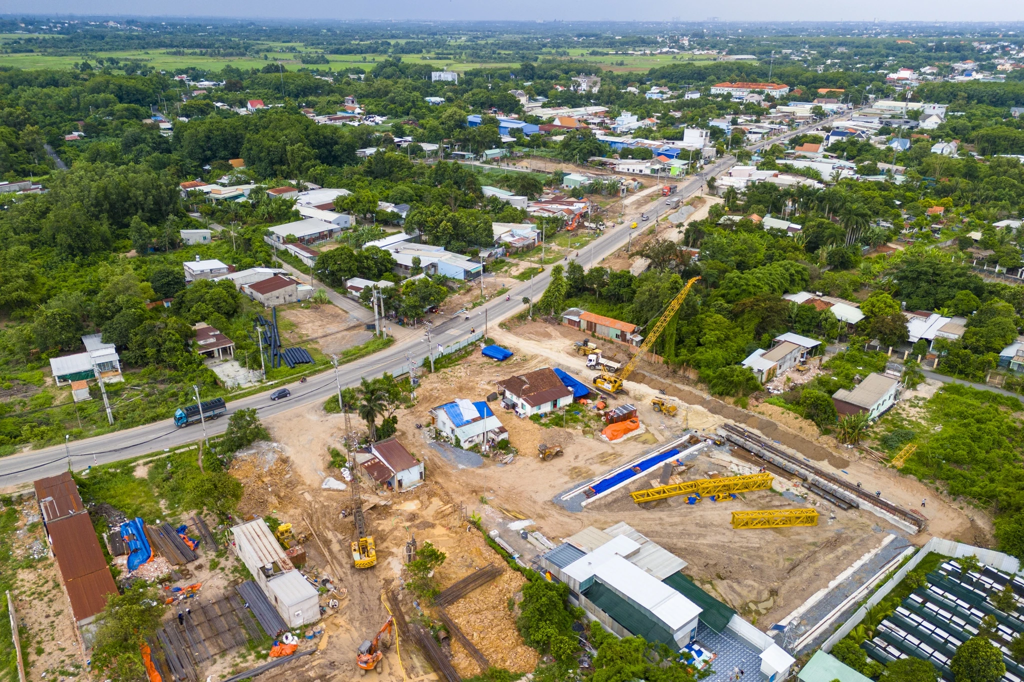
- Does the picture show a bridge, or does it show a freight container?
freight container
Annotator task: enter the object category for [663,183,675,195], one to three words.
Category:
vehicle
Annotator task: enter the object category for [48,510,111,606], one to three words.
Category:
shed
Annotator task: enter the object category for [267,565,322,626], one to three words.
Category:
building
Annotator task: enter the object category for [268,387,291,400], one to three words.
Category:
vehicle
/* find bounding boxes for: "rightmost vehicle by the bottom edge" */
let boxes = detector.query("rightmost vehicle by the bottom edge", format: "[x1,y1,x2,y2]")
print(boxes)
[352,613,395,681]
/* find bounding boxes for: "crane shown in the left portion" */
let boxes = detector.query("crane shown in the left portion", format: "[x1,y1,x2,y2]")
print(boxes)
[342,404,378,567]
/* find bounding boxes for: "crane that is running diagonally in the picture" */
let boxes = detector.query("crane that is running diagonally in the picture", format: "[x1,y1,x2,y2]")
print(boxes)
[590,279,707,400]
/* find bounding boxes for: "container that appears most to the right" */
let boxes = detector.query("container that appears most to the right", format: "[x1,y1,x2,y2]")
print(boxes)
[605,402,639,427]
